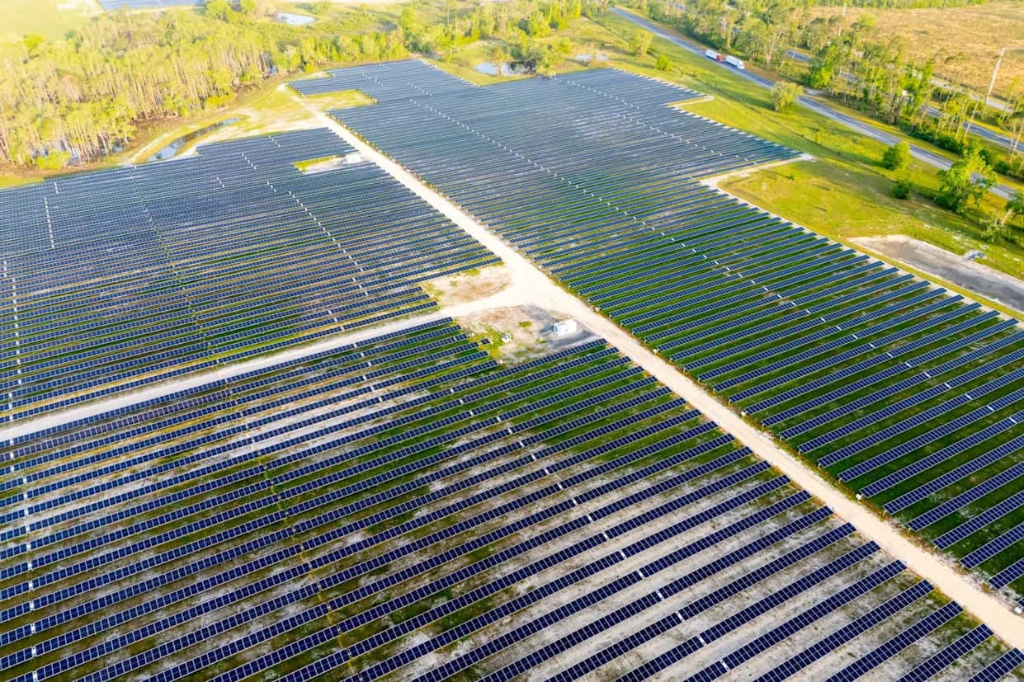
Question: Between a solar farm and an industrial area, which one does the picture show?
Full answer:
The picture captures a solar farm.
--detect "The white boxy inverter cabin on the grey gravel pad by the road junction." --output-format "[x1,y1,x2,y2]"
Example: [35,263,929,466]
[554,316,579,335]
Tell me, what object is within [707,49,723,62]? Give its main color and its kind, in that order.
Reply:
white vehicle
